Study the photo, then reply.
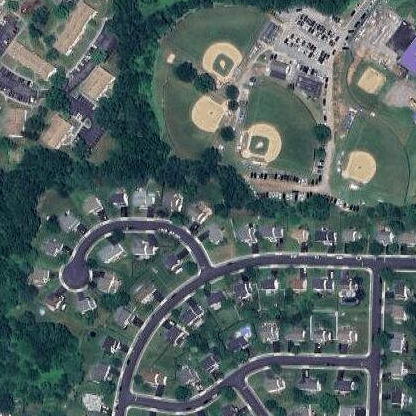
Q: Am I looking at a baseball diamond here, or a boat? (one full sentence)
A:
Visible in the photo is a baseball diamond.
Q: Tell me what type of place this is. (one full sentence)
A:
What you see here is a residential area.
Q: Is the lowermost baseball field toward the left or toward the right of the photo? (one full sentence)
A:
You can find the lowermost baseball field on the right side of the picture.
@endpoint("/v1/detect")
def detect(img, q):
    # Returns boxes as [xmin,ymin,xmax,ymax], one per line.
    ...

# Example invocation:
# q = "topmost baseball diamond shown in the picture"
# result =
[203,43,242,88]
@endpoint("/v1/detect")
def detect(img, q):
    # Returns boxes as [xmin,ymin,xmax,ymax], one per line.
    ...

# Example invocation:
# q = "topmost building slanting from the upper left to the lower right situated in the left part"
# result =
[9,41,55,78]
